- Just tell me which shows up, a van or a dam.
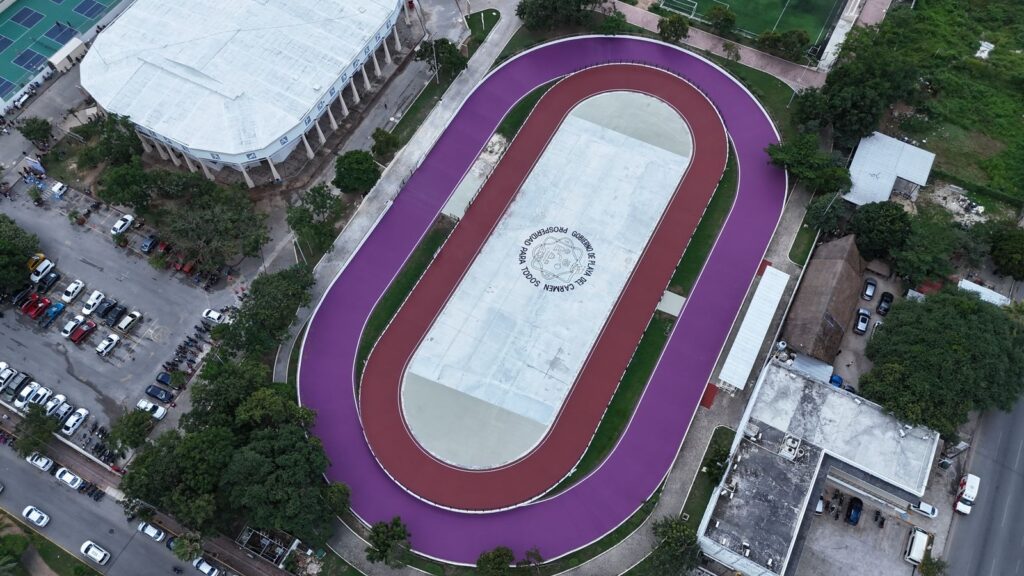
van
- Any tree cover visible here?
Yes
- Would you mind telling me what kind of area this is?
sports ground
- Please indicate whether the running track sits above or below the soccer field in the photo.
below it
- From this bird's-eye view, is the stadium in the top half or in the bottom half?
top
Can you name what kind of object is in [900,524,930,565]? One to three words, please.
vehicle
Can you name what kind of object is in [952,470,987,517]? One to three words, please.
van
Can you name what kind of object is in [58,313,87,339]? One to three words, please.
car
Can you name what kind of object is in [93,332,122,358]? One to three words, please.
car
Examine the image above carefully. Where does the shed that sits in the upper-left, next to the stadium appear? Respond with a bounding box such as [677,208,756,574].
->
[50,39,90,80]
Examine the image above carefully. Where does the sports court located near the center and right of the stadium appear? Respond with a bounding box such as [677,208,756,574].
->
[399,89,693,469]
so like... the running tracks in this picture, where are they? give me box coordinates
[296,32,788,568]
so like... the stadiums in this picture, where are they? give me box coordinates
[79,0,412,189]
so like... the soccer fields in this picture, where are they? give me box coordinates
[660,0,840,51]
